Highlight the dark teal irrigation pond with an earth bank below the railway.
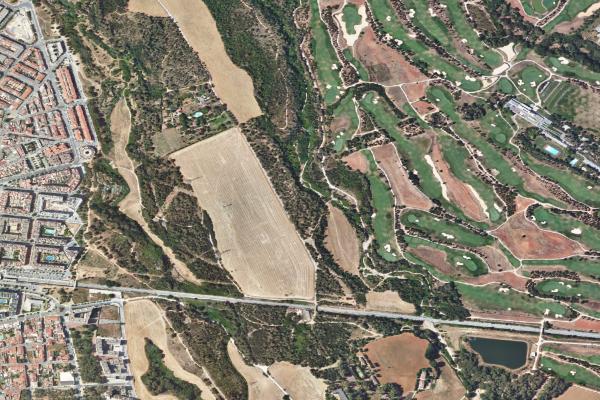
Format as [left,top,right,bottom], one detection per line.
[465,333,530,372]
